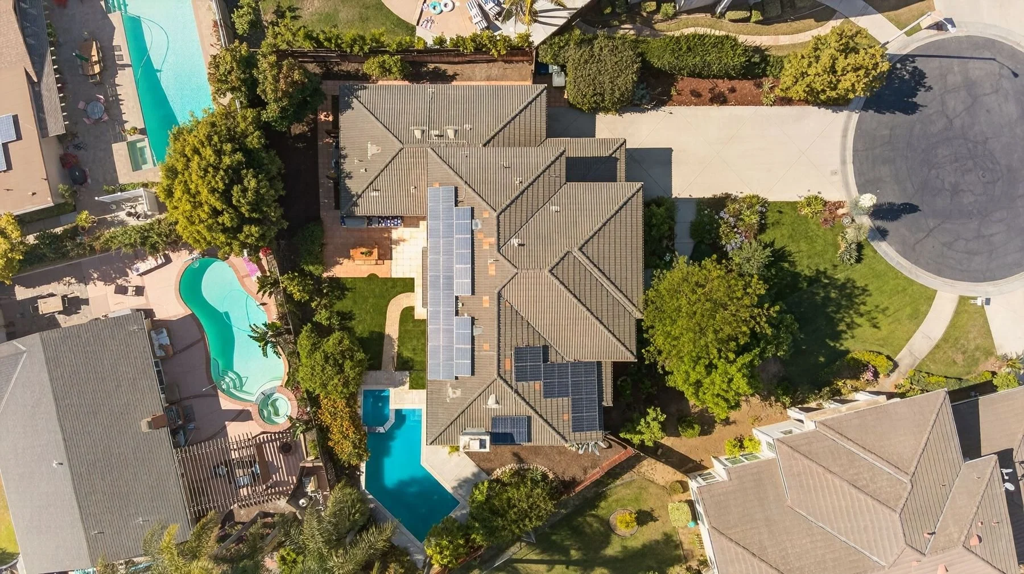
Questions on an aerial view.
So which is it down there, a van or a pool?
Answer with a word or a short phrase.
pool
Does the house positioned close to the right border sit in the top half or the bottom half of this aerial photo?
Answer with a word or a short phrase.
bottom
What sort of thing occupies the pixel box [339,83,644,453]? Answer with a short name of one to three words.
house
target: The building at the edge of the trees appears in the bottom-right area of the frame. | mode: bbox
[689,379,1024,574]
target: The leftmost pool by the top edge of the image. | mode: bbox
[106,0,222,166]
